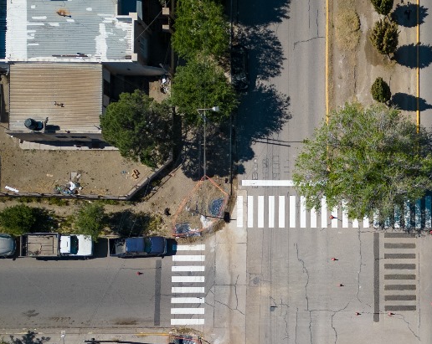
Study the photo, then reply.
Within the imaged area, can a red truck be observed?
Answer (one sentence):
No, the scene contains no red truck.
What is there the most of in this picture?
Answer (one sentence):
What you mostly see from above here is paved ground.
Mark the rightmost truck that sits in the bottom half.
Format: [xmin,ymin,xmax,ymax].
[108,234,169,257]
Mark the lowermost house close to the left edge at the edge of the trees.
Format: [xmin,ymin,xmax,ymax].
[7,63,120,152]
